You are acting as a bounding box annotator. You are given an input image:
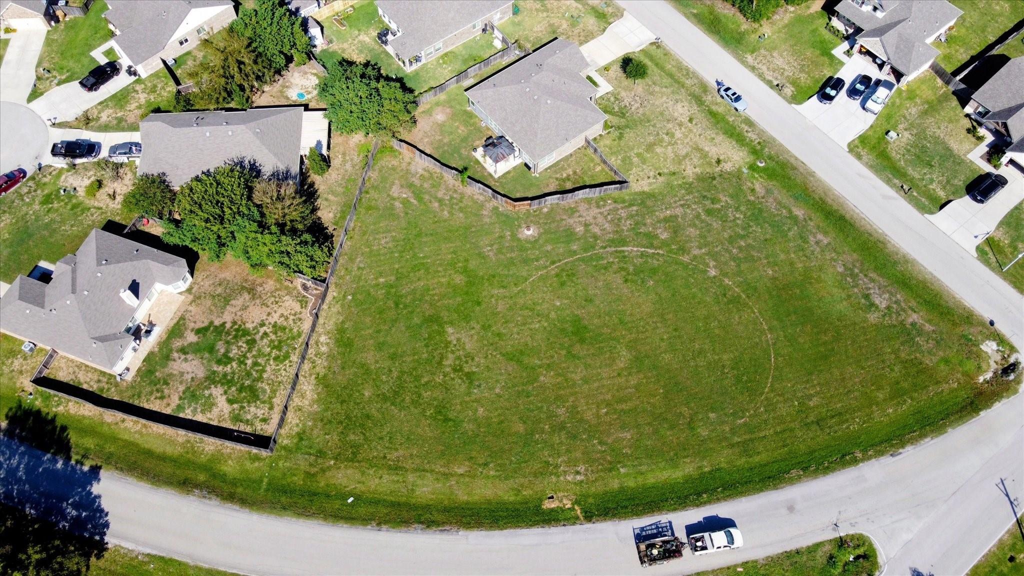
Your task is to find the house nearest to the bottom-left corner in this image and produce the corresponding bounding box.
[0,228,193,374]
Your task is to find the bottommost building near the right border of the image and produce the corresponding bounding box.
[964,53,1024,183]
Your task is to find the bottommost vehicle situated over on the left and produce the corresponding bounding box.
[0,167,31,194]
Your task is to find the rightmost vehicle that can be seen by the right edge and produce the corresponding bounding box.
[971,173,1009,204]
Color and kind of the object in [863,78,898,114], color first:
white truck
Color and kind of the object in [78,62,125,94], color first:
black truck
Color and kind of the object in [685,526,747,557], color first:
white truck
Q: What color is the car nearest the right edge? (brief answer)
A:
black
